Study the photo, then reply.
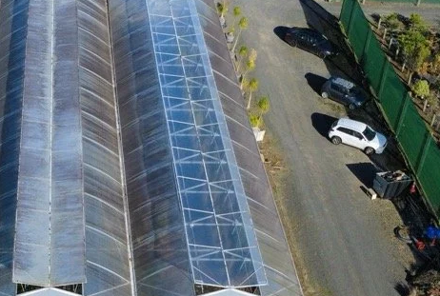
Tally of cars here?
3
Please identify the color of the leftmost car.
black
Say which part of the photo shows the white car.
right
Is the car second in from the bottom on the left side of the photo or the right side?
right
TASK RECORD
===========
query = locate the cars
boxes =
[325,114,392,156]
[316,73,375,111]
[288,26,345,59]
